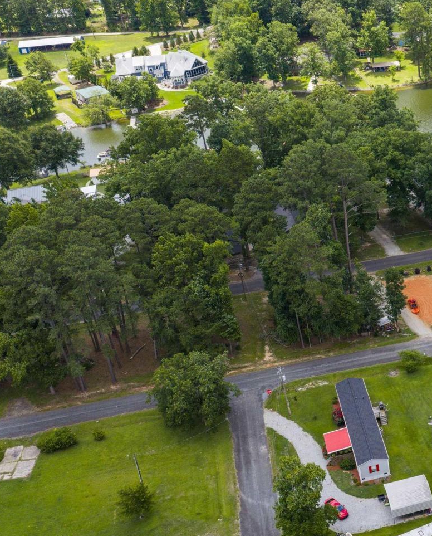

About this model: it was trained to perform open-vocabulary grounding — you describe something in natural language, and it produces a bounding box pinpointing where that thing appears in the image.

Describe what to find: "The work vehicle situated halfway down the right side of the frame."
[406,298,421,316]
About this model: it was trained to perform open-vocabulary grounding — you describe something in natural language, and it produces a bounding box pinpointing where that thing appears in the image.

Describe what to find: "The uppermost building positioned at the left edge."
[18,34,78,55]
